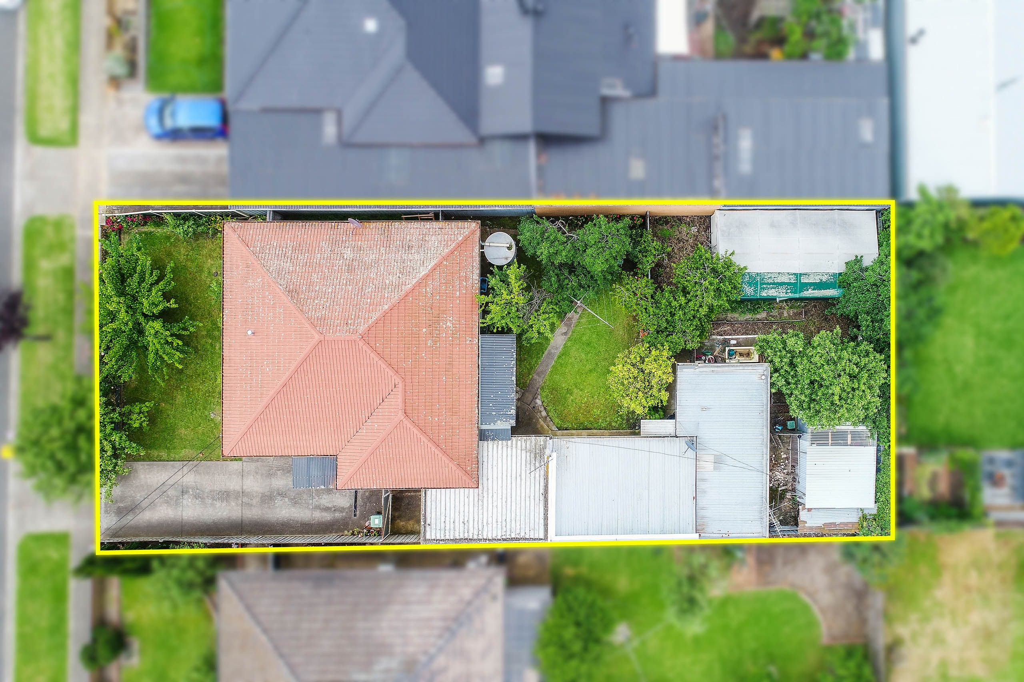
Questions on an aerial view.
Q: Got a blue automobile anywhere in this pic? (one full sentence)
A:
Yes, the photo shows a blue automobile.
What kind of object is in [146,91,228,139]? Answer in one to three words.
car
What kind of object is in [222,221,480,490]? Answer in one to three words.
house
